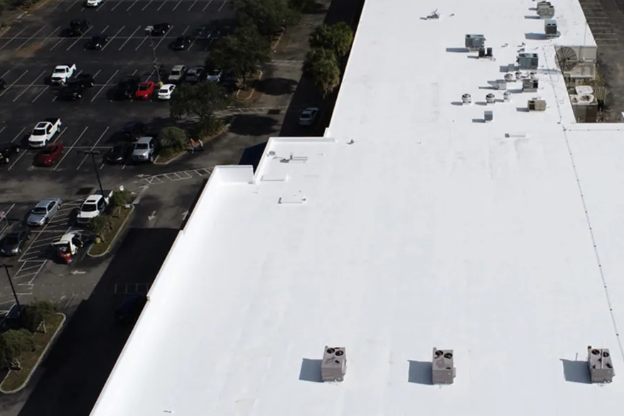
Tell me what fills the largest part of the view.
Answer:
buildings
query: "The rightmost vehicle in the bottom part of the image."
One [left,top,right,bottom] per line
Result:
[112,294,148,325]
